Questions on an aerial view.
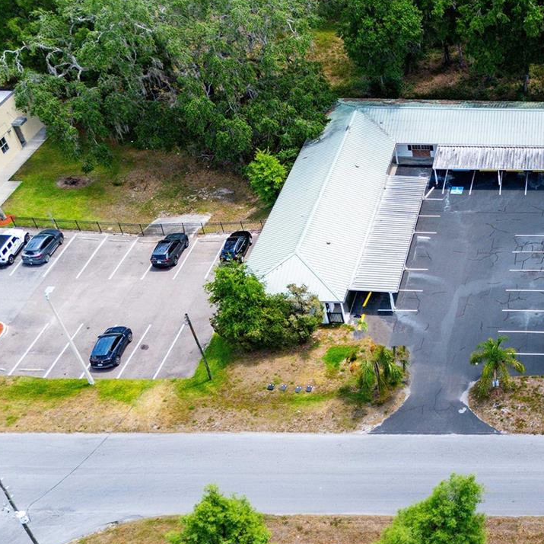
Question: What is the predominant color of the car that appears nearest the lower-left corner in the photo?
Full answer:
The color of the car that appears nearest the lower-left corner is blue.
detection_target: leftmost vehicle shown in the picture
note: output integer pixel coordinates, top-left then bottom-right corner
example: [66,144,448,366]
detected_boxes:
[0,229,35,263]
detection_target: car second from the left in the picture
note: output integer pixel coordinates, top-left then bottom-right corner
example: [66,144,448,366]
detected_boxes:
[23,227,67,261]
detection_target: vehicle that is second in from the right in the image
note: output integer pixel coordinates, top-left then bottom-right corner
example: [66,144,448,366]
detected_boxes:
[151,230,190,263]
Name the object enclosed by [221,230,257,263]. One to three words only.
car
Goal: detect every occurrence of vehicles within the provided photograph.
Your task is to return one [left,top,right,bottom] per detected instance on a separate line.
[0,229,35,263]
[23,227,67,261]
[92,320,139,364]
[151,230,190,263]
[221,230,257,263]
